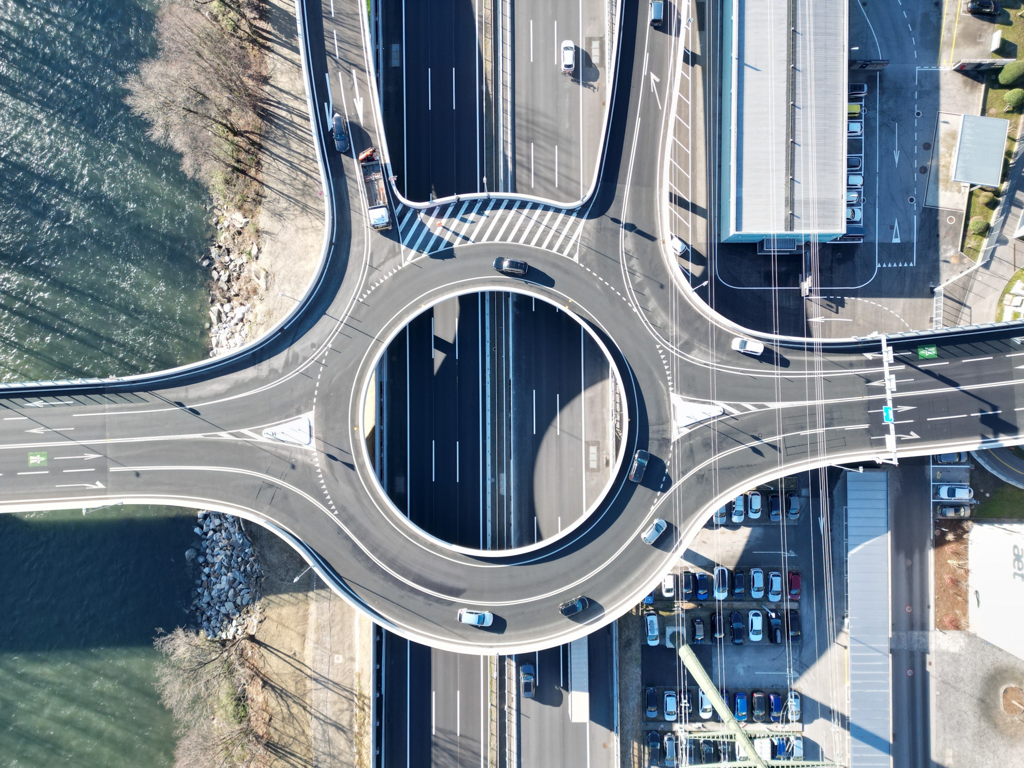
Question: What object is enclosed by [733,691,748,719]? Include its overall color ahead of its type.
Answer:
blue car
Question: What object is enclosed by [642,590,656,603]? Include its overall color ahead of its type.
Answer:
blue vehicle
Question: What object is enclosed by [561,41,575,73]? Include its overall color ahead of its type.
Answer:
white car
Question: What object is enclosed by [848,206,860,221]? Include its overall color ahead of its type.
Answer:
blue vehicle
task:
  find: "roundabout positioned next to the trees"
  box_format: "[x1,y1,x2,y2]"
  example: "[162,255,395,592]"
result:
[103,177,876,655]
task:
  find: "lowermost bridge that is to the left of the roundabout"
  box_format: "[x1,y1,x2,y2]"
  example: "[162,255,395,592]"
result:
[0,379,109,513]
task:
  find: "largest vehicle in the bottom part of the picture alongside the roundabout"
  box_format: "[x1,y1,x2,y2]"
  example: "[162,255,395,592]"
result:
[569,633,589,721]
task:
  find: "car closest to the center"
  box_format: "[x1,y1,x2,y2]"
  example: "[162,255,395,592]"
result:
[494,257,528,276]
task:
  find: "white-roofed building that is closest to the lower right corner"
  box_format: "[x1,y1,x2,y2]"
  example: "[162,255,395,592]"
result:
[966,523,1024,663]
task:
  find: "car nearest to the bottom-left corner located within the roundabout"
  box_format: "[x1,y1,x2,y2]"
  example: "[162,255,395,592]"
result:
[457,607,493,626]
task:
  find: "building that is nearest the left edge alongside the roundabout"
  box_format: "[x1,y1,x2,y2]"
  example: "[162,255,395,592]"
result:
[721,0,848,258]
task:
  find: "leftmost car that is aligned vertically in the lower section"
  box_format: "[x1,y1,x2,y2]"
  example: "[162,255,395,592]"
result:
[519,661,535,696]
